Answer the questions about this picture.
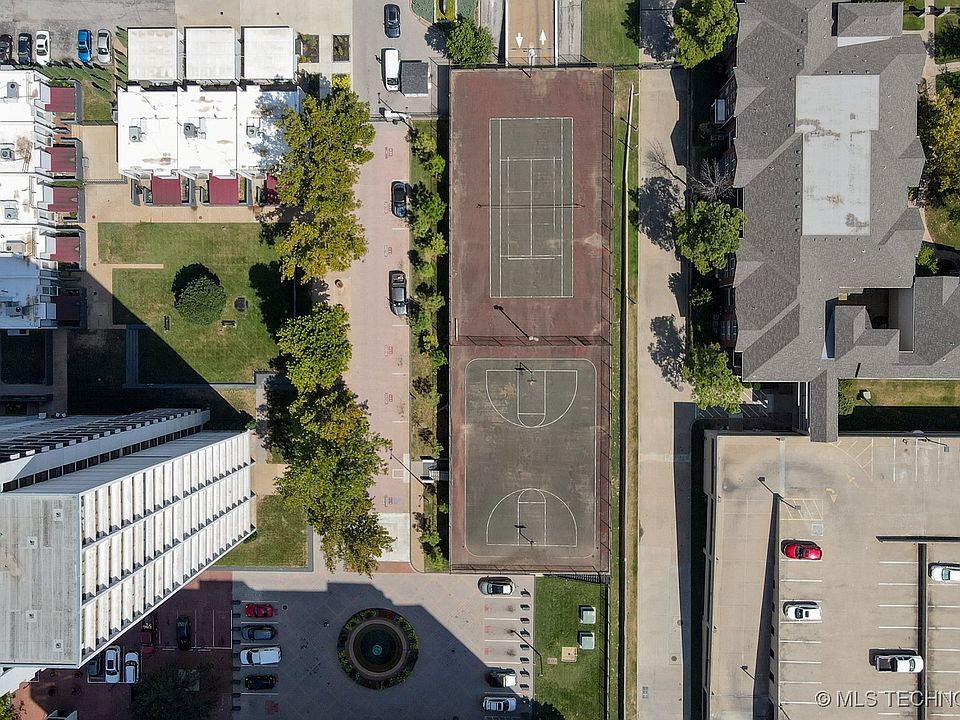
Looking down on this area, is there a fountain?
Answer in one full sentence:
Yes, the frame does contain a fountain.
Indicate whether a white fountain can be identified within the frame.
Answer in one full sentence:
No, there's no white fountain here.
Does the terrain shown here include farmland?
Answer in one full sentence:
No, the scene doesn't show any farmland.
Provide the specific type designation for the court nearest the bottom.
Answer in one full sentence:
I'd identify the court nearest the bottom as a basketball court.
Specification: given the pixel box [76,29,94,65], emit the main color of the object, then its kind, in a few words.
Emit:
blue car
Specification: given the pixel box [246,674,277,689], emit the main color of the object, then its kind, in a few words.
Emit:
black car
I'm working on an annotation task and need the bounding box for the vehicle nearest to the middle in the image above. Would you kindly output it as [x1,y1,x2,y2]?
[390,274,407,315]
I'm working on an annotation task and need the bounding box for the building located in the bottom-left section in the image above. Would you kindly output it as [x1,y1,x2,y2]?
[0,408,258,703]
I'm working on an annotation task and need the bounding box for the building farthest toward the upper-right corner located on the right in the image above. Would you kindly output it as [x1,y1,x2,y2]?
[711,0,960,441]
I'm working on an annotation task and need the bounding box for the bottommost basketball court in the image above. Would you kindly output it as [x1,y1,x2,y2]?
[451,346,610,572]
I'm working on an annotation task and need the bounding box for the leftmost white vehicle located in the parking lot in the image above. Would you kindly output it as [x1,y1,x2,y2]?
[34,31,52,67]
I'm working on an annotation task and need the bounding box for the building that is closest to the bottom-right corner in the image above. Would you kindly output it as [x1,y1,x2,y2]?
[697,428,960,720]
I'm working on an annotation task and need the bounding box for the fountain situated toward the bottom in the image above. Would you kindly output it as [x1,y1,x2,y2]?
[338,608,418,690]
